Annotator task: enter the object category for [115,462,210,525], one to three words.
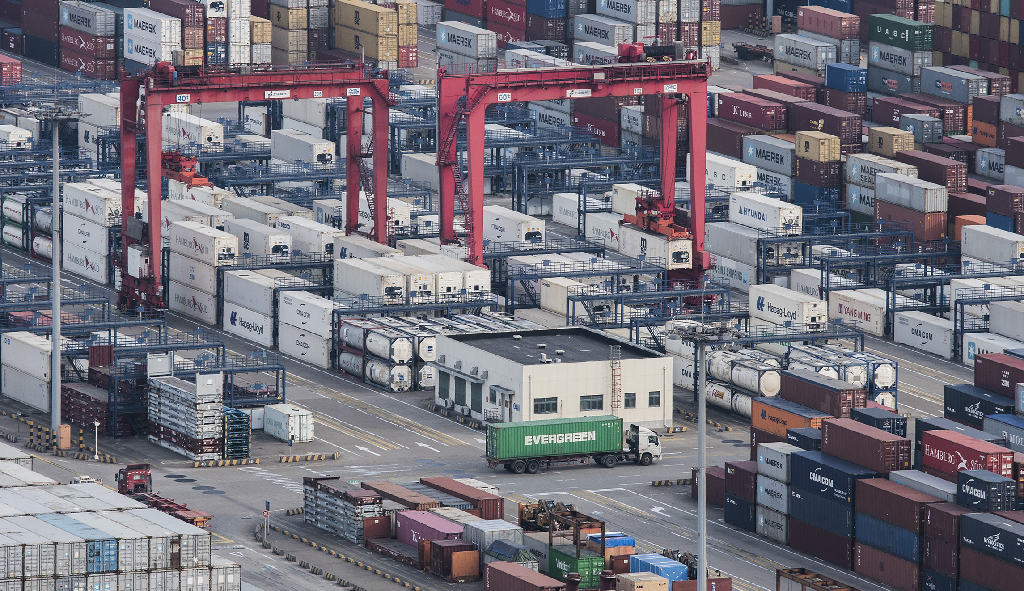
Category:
truck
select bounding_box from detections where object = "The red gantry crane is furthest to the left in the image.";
[105,42,401,329]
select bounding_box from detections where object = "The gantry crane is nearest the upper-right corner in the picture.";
[435,39,728,315]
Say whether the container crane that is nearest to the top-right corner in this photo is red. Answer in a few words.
Yes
